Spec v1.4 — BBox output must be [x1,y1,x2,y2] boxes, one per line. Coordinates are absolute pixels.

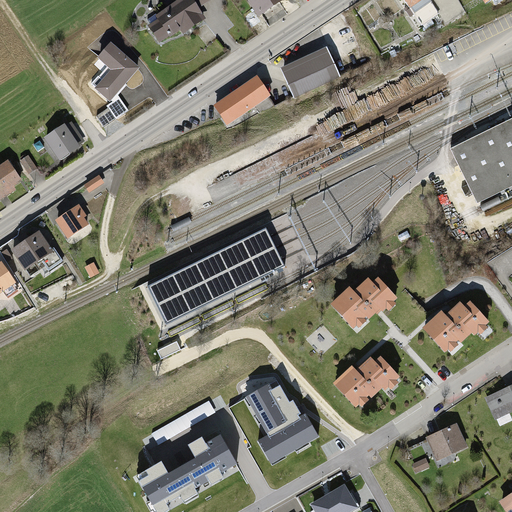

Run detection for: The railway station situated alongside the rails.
[166,135,402,258]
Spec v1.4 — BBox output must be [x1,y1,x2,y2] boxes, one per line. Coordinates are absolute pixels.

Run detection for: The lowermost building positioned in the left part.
[133,436,238,512]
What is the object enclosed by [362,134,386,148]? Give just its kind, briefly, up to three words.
rail car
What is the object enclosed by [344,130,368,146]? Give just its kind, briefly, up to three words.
rail car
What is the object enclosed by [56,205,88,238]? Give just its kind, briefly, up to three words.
house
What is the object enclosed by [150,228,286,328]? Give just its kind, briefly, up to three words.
building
